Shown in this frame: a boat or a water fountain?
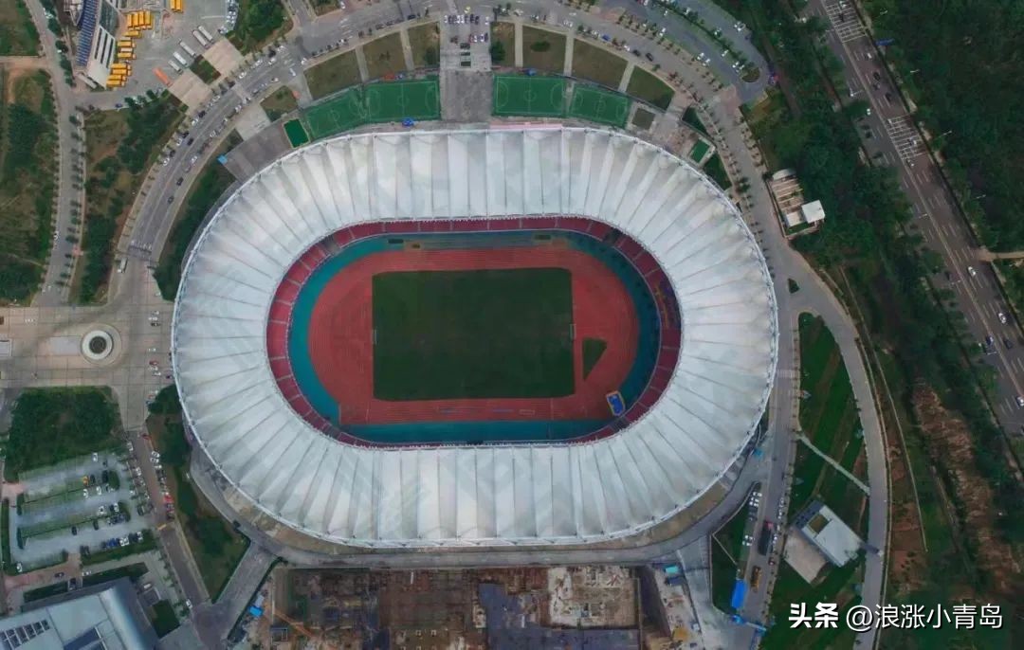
water fountain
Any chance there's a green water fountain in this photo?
No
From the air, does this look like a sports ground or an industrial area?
sports ground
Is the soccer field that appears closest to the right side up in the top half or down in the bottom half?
top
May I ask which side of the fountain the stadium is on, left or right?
to the right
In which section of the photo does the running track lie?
center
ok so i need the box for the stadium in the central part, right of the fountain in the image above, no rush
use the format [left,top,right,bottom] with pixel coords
[171,126,779,551]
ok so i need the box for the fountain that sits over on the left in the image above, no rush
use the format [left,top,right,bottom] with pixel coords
[79,323,123,366]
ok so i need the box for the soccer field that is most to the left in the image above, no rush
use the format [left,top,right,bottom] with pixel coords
[304,85,367,139]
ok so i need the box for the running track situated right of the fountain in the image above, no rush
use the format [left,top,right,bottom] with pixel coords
[289,231,658,446]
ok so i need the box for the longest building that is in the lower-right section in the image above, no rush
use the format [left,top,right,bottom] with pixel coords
[791,499,862,567]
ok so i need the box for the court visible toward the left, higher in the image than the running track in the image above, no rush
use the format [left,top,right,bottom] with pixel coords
[282,117,310,148]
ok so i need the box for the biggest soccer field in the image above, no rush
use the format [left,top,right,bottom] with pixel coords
[370,268,579,402]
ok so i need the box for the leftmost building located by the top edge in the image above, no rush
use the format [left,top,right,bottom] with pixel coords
[64,0,129,96]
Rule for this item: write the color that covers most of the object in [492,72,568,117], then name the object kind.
green soccer field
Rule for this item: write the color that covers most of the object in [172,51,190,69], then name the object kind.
white vehicle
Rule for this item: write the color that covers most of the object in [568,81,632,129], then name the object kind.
green soccer field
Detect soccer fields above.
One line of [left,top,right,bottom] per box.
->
[492,72,568,117]
[370,268,579,402]
[304,85,367,139]
[363,74,440,123]
[568,81,632,129]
